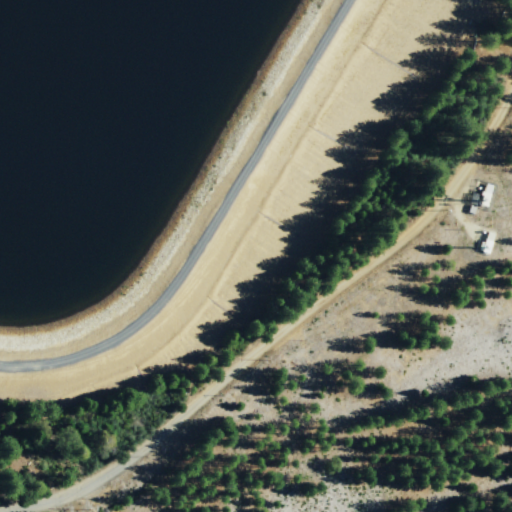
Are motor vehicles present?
No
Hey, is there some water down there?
Yes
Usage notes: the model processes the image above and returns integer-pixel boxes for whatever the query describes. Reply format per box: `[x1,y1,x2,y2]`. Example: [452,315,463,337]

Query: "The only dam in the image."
[0,0,462,418]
